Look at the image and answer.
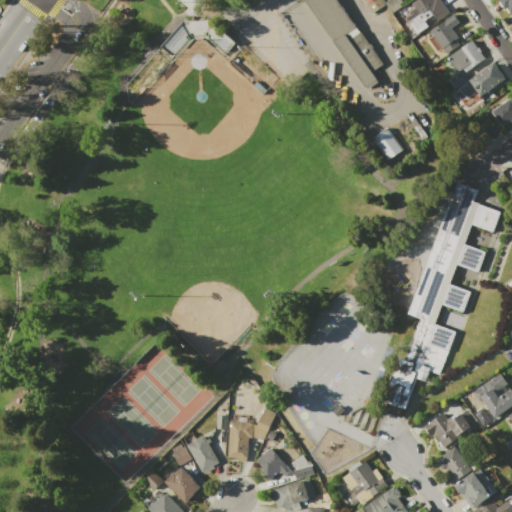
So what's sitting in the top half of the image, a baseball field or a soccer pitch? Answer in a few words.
baseball field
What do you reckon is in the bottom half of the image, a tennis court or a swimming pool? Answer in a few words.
tennis court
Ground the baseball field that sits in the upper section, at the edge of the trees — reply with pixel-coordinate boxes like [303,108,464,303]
[128,39,346,292]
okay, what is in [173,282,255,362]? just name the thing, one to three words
baseball field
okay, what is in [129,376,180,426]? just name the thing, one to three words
tennis court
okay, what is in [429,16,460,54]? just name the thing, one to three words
house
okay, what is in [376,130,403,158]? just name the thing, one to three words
building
